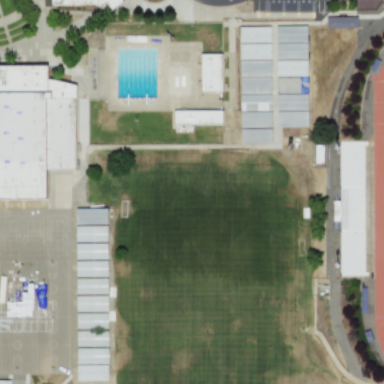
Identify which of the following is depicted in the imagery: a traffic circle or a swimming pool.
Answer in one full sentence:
It is a swimming pool that can be seen here.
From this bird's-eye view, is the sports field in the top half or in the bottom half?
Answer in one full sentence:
The bottom half of the photo is where the sports field is.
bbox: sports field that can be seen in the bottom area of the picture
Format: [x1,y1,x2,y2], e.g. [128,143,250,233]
[67,150,350,384]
